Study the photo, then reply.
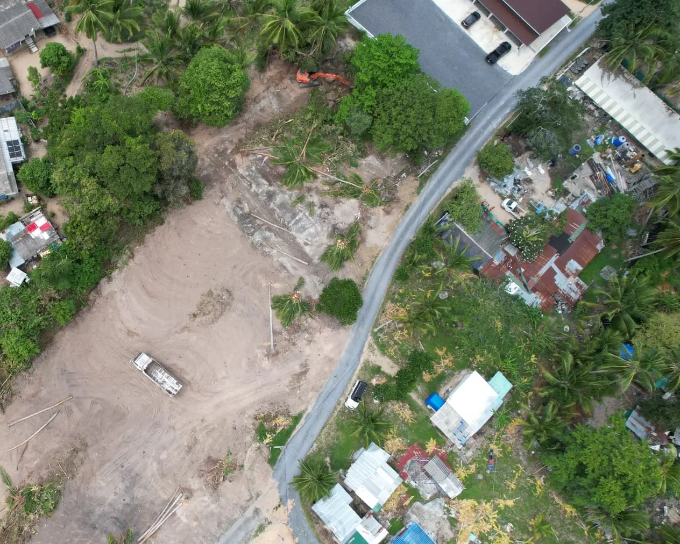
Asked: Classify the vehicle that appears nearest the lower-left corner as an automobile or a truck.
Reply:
truck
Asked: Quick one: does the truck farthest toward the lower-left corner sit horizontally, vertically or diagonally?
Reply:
diagonally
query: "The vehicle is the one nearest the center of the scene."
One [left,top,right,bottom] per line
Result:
[345,381,369,411]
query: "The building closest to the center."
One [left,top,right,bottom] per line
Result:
[435,206,510,271]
